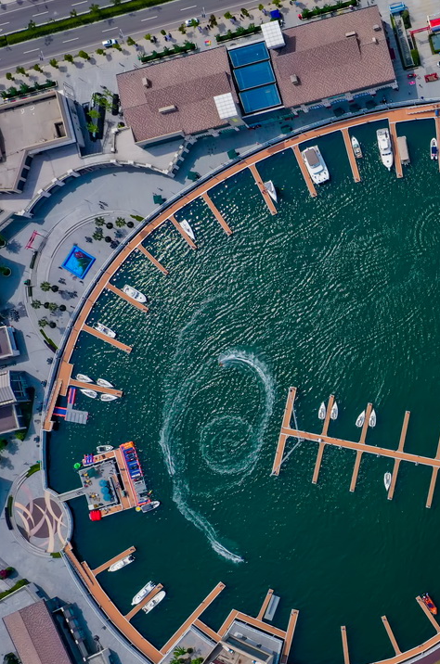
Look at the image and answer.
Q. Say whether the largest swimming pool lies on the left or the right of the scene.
left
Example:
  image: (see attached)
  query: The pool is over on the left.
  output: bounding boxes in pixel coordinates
[62,246,97,279]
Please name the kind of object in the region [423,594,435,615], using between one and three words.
boat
